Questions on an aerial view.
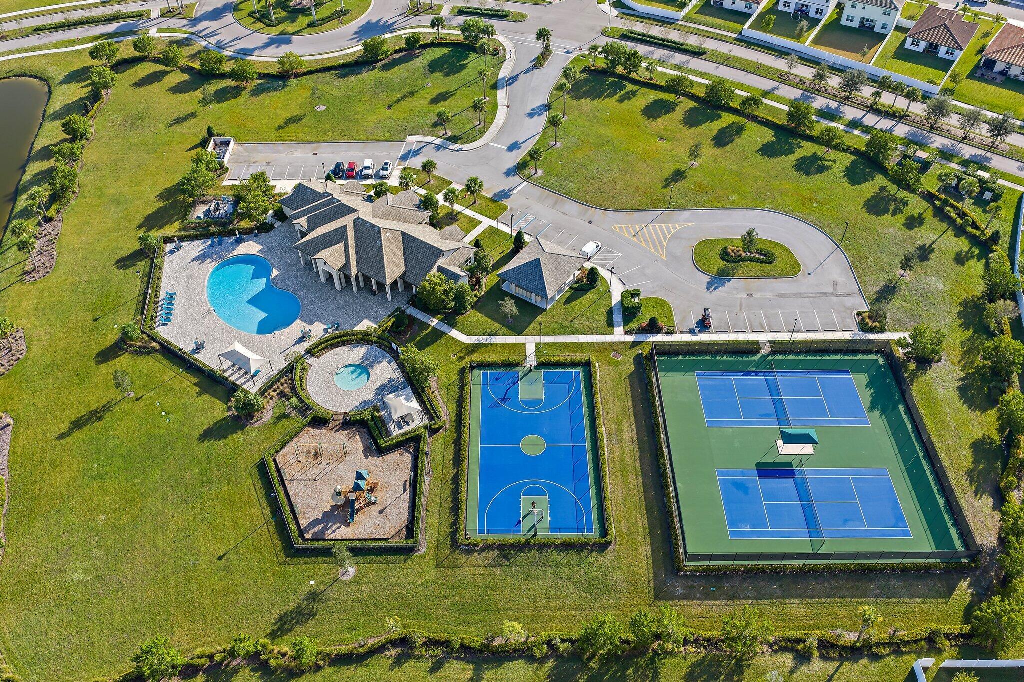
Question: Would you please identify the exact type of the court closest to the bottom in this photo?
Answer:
tennis court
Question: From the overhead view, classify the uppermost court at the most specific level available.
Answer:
tennis court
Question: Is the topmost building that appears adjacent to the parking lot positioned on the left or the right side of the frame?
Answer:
left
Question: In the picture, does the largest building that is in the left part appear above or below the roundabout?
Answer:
below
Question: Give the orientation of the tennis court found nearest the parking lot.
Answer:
horizontally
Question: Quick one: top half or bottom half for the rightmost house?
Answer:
top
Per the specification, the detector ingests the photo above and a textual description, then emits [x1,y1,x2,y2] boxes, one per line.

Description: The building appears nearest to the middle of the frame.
[497,236,587,308]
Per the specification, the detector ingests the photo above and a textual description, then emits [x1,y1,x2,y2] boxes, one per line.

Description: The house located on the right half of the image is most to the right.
[984,22,1024,76]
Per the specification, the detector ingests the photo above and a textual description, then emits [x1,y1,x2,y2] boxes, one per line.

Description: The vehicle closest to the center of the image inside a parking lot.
[582,239,606,259]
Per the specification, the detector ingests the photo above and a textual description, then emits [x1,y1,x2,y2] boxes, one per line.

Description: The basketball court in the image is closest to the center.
[477,372,594,536]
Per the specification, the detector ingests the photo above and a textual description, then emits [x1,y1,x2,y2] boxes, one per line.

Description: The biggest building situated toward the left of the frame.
[277,179,479,301]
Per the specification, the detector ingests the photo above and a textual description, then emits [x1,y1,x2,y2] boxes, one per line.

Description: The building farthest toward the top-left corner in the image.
[205,136,232,166]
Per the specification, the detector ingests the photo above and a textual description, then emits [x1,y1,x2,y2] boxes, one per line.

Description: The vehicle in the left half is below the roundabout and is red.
[346,160,358,176]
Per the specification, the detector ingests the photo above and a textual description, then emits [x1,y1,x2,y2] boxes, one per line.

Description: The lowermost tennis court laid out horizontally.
[718,458,915,544]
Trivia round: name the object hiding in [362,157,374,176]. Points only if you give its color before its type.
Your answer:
white vehicle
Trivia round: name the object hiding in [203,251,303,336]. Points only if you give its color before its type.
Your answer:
blue swimming pool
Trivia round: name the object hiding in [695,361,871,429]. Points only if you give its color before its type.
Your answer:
blue tennis court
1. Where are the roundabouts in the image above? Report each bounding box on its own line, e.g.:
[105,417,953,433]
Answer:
[188,0,412,56]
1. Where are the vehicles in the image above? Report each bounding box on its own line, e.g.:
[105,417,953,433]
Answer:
[362,157,374,176]
[346,160,358,176]
[582,239,606,259]
[332,159,345,176]
[703,307,715,326]
[379,159,391,175]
